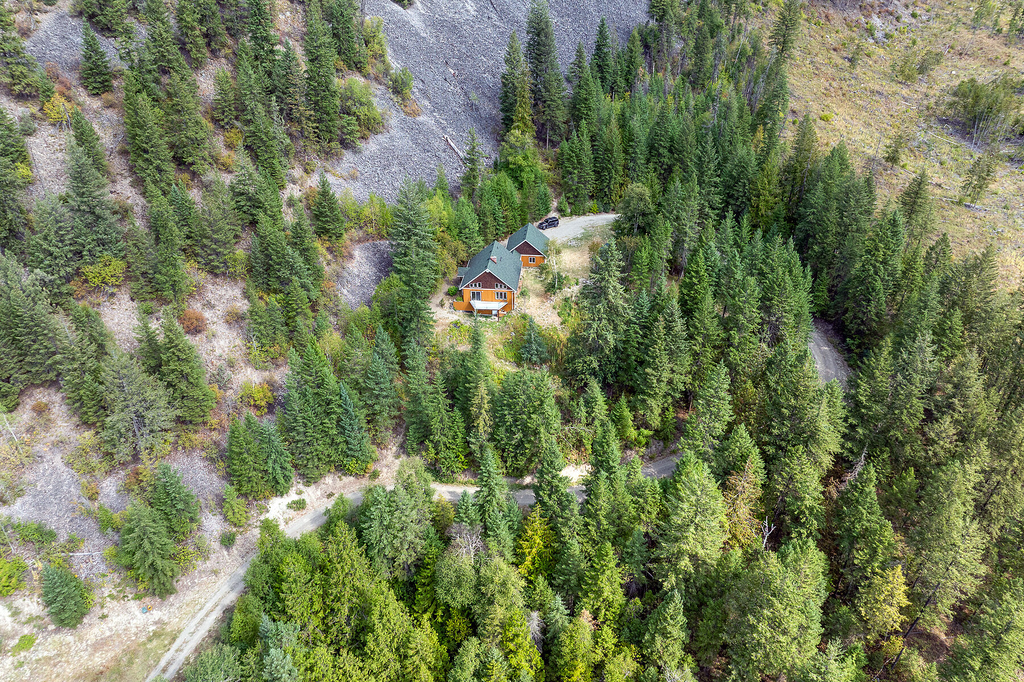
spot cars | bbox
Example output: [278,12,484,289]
[539,215,563,231]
